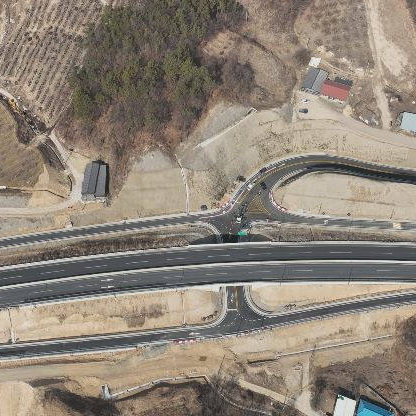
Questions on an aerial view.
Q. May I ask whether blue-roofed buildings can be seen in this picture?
Yes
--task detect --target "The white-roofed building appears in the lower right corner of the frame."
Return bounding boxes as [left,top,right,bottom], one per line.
[332,395,355,416]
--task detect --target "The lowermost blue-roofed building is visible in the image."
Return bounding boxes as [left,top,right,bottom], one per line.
[353,399,393,416]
